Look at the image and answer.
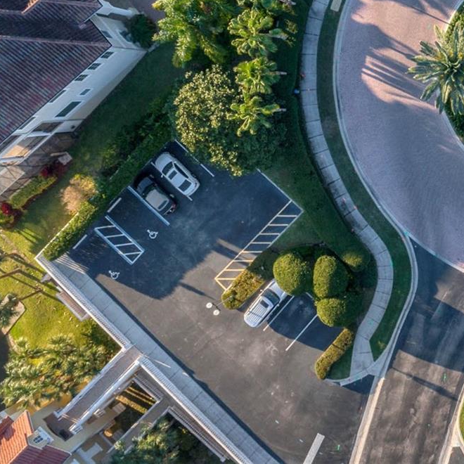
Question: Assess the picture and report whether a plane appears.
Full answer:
No, the photo shows no plane.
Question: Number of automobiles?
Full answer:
I count 3 automobiles.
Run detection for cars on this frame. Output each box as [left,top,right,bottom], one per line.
[156,150,201,198]
[243,281,285,328]
[136,172,180,219]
